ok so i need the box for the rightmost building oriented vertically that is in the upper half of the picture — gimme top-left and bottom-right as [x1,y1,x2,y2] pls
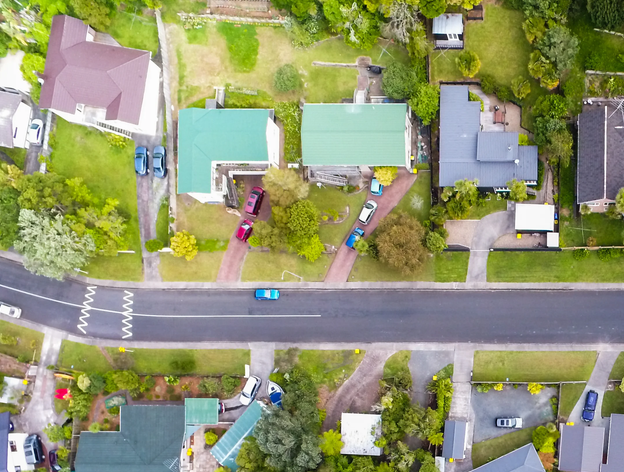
[578,96,624,205]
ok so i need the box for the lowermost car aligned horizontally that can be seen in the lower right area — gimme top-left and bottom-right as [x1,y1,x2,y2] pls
[495,417,523,429]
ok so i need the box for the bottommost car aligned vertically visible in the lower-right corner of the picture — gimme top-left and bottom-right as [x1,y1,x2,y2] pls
[583,392,597,420]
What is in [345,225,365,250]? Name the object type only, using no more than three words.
car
